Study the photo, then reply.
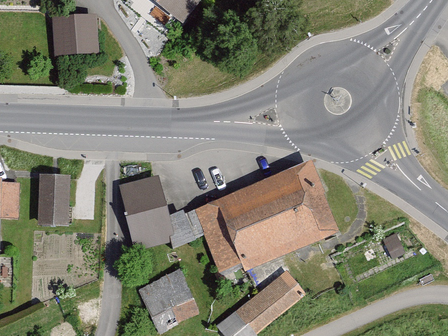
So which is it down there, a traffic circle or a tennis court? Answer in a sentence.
It is a traffic circle that can be seen here.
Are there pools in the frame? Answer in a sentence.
No, I find no pool anywhere in the image.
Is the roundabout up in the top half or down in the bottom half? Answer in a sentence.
It is in the top half that the roundabout appears.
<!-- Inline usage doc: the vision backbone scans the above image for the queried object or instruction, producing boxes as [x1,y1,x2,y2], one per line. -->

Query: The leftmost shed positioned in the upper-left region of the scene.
[50,14,99,55]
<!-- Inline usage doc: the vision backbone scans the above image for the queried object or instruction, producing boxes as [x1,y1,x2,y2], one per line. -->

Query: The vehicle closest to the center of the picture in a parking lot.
[210,166,224,190]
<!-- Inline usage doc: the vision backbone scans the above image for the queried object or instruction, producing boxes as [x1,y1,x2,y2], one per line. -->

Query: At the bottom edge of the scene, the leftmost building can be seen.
[139,270,198,334]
